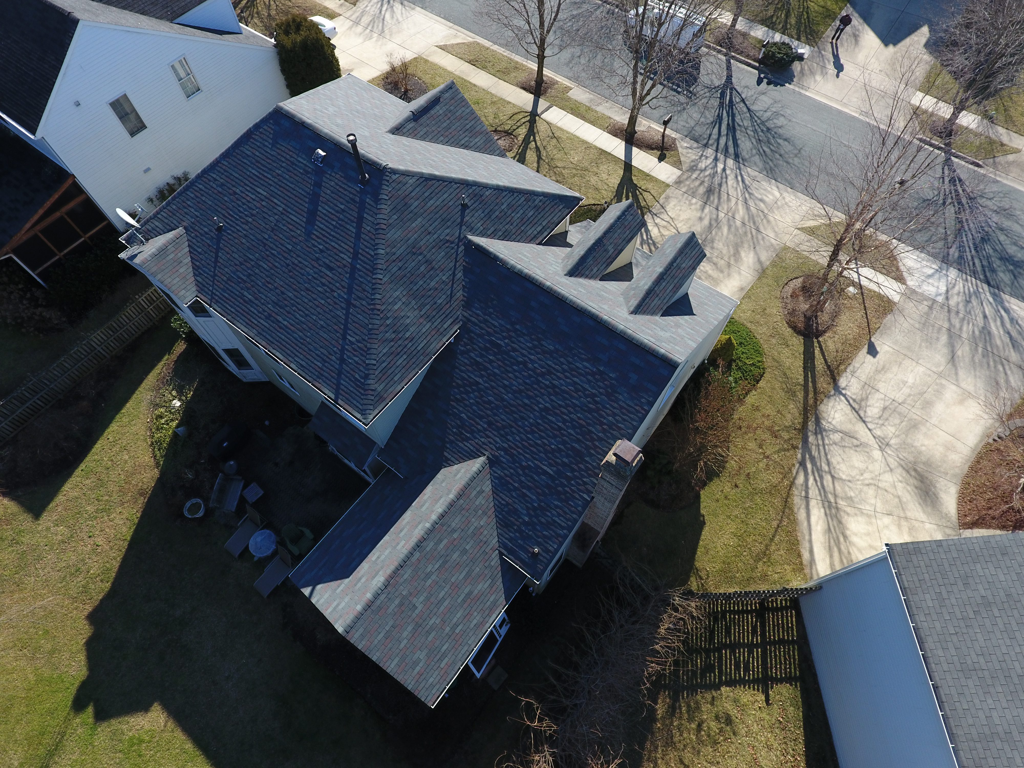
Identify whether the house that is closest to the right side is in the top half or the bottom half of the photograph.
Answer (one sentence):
Seen from above, the house that is closest to the right side lies in the bottom half of the view.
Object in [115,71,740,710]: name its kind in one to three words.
house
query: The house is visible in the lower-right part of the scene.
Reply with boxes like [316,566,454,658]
[796,534,1024,768]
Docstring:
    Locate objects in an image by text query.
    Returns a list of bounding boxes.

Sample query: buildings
[115,71,740,710]
[796,534,1024,768]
